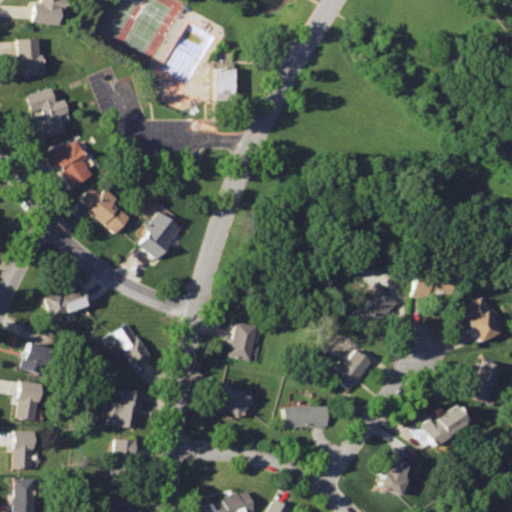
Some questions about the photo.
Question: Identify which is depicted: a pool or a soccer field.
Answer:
pool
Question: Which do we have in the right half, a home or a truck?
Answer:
home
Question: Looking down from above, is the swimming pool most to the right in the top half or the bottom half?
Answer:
top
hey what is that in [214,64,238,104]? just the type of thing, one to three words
building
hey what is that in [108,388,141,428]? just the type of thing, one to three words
house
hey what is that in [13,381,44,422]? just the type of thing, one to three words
house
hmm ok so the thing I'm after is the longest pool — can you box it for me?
[165,24,216,84]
